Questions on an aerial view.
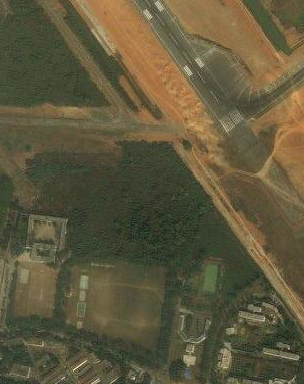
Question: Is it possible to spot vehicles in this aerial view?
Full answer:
No, this view has no vehicle in it.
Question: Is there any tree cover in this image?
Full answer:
Yes, tree cover shows up in the scene.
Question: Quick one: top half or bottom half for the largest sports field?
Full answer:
It is in the bottom half that the largest sports field appears.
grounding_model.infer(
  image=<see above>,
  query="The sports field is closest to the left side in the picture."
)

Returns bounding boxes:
[13,264,58,317]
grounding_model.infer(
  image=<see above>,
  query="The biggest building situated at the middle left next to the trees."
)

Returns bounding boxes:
[27,214,68,249]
